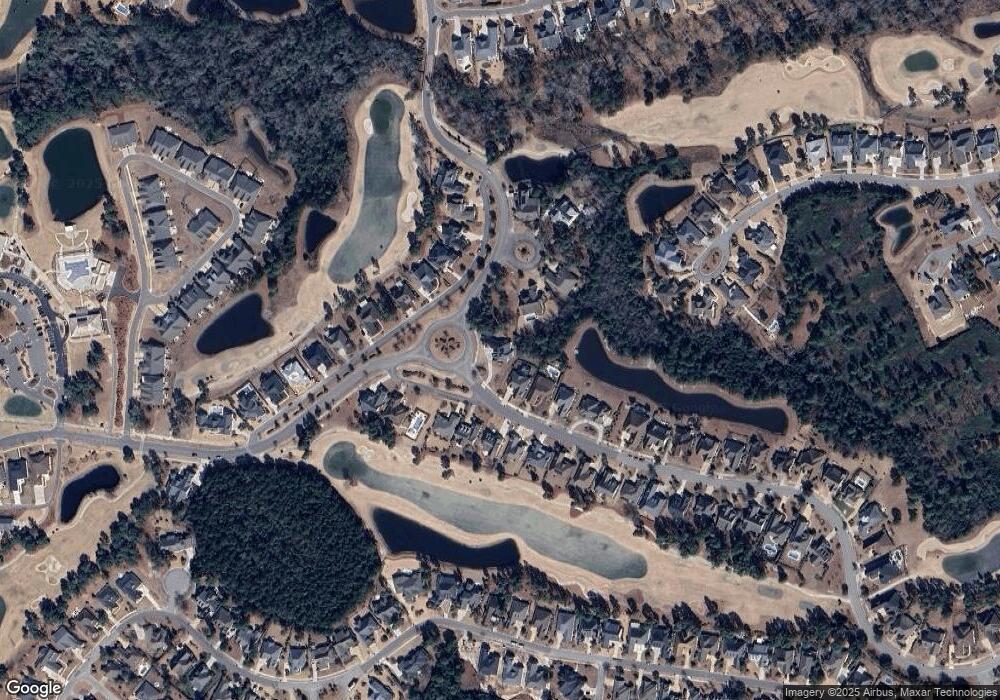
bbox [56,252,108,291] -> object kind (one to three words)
swimming pool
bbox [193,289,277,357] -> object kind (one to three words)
pond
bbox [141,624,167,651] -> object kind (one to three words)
house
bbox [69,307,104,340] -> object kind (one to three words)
building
